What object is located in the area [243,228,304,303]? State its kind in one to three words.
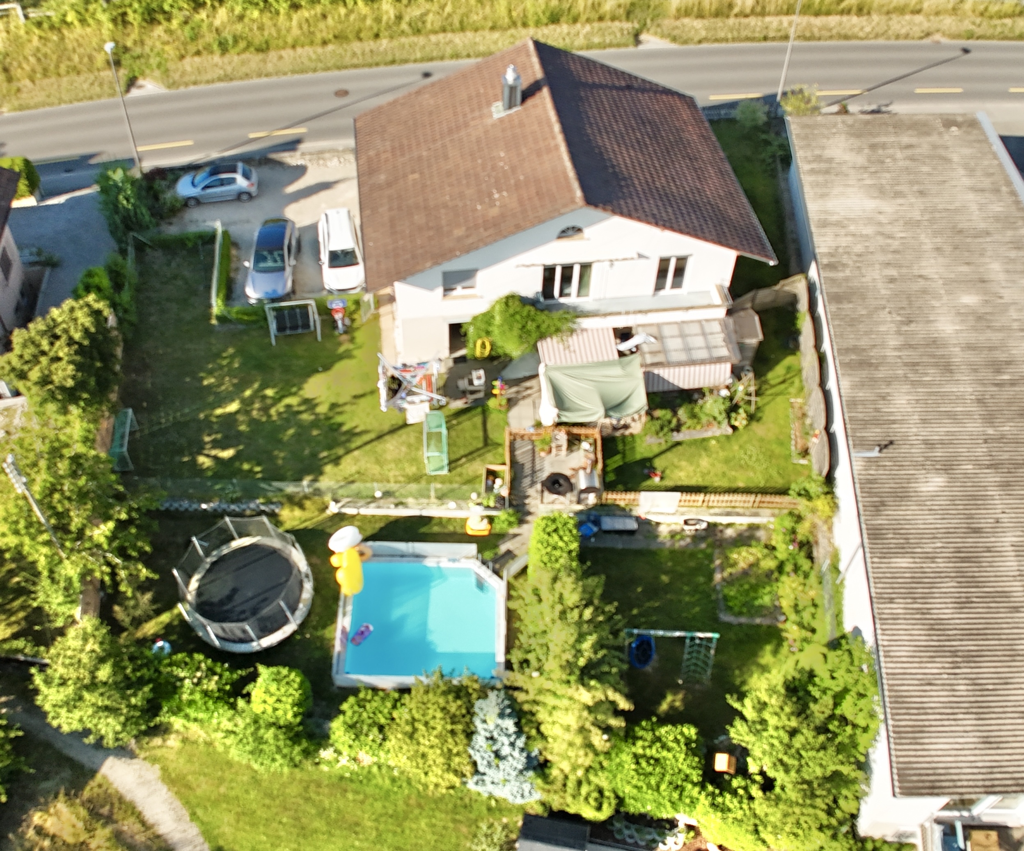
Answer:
car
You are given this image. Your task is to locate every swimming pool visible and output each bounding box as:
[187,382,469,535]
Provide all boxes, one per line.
[333,549,510,698]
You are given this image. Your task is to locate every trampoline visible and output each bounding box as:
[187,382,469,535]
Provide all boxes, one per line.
[164,509,318,658]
